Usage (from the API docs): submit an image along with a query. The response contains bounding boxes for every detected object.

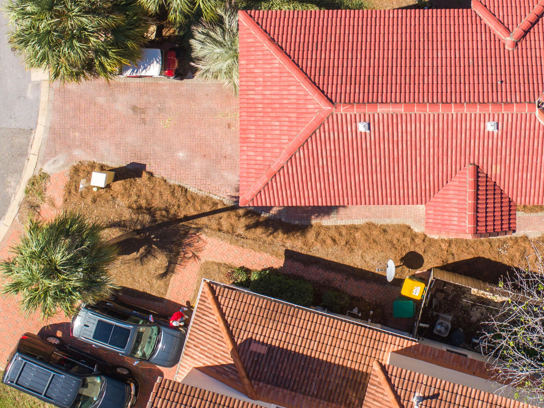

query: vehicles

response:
[69,296,190,369]
[2,321,149,408]
[121,49,189,79]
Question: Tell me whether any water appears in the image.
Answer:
No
